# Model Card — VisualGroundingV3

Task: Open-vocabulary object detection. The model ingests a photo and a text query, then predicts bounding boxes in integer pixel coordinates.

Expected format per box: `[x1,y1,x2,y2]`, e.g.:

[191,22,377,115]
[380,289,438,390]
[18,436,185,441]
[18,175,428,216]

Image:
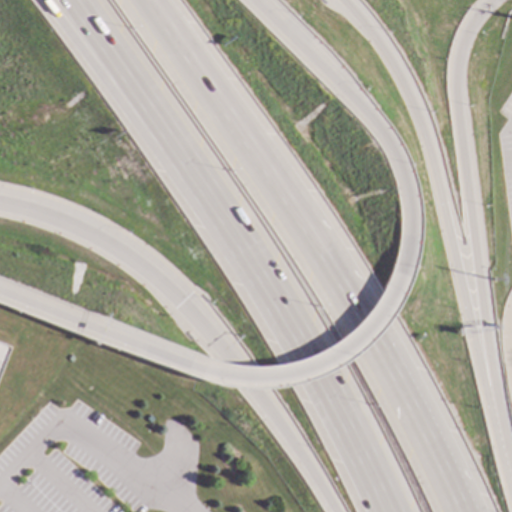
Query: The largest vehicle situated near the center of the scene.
[236,207,253,229]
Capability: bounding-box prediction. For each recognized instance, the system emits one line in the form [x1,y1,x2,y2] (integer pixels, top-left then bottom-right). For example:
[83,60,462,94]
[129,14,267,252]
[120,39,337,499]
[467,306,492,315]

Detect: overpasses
[0,197,424,388]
